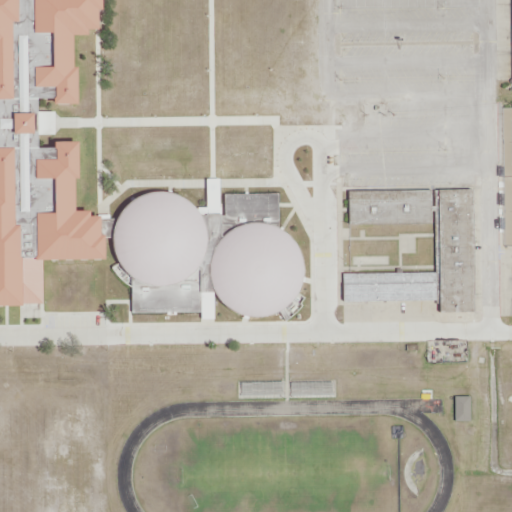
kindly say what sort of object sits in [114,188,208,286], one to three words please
building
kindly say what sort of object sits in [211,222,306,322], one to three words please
building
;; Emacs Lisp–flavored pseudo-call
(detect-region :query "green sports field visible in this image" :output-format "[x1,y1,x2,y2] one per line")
[181,425,388,512]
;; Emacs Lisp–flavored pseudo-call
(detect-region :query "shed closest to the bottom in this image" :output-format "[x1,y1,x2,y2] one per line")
[456,397,472,422]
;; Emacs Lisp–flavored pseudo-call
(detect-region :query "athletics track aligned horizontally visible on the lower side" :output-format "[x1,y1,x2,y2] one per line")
[118,400,453,512]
